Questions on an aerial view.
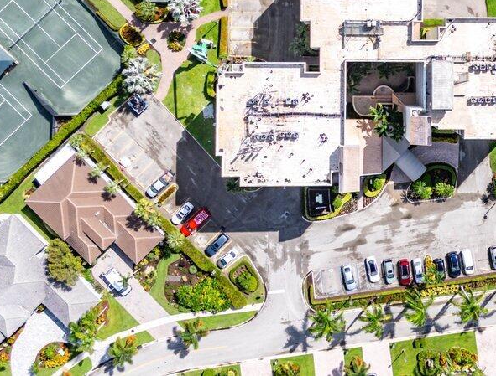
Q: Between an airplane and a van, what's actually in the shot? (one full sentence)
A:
There is a van in the scene.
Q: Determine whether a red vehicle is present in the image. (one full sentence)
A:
Yes, the image includes a red vehicle.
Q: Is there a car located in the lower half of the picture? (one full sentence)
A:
Yes, looking in the lower half of the picture, one can make out a car.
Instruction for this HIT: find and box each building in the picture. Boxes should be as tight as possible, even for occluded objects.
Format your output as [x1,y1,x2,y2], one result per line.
[0,212,107,341]
[215,0,496,193]
[25,141,167,266]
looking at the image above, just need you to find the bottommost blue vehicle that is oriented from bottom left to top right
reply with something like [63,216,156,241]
[206,233,230,257]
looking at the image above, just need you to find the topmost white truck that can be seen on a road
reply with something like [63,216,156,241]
[146,173,174,198]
